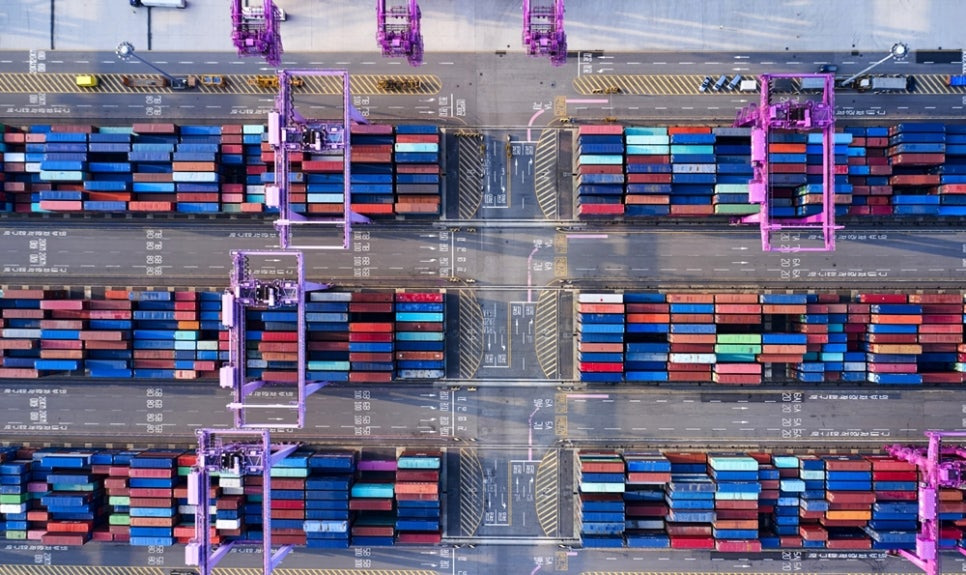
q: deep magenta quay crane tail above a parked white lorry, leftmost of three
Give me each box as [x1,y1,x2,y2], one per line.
[232,0,286,71]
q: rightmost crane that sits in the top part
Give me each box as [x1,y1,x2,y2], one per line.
[729,73,841,250]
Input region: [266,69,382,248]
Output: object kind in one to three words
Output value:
container crane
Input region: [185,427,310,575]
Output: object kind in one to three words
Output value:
container crane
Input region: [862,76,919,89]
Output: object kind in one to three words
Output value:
vehicle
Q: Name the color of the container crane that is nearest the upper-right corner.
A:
purple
